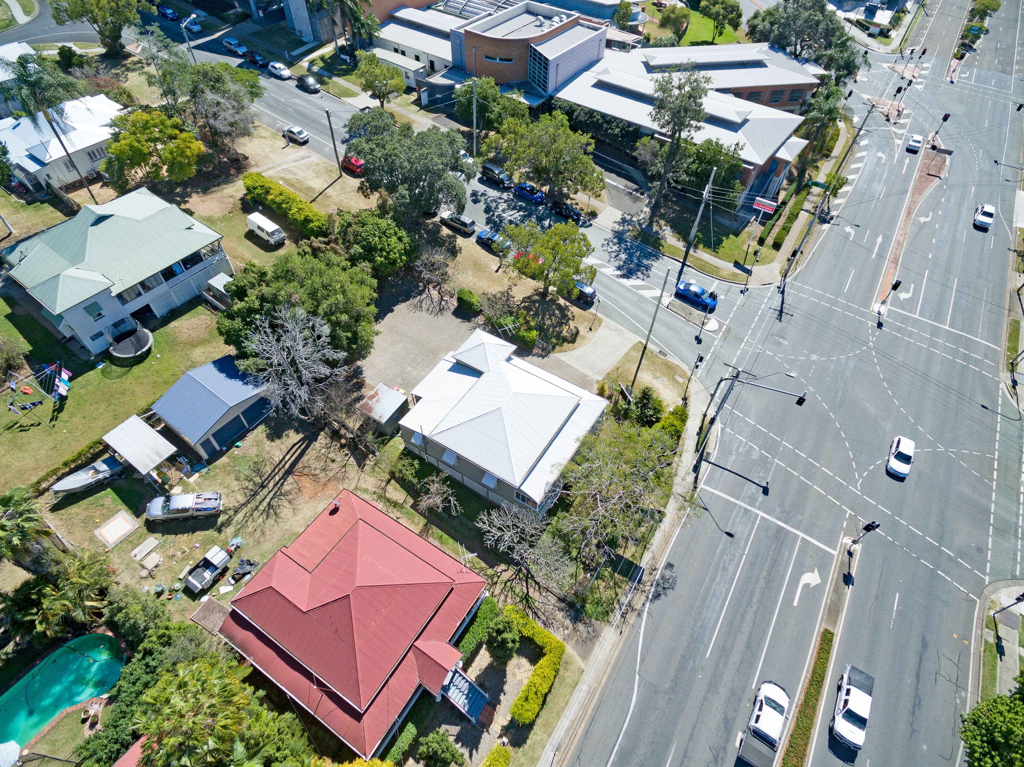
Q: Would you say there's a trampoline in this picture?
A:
Yes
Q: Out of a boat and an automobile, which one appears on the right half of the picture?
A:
automobile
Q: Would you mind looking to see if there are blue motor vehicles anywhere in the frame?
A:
Yes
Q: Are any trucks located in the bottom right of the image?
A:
Yes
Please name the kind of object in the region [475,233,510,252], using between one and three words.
car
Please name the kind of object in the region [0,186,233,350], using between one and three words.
building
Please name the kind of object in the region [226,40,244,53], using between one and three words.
vehicle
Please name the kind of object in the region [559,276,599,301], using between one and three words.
car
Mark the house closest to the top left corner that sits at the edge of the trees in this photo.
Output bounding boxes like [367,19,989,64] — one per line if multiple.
[0,34,37,82]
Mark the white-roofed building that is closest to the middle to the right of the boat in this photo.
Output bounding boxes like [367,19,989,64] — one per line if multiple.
[398,292,610,515]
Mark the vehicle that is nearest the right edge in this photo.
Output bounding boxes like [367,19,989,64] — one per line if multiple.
[973,205,995,227]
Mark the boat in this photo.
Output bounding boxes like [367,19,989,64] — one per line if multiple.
[44,455,121,496]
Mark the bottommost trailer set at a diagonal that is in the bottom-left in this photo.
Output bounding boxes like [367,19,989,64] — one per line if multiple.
[180,540,238,597]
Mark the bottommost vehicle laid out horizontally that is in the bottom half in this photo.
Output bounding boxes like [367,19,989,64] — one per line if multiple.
[146,491,223,524]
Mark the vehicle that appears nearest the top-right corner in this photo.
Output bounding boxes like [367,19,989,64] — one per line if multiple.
[907,137,923,150]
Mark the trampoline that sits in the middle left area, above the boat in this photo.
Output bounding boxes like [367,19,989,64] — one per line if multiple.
[100,322,158,368]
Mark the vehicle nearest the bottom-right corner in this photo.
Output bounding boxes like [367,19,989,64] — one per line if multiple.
[829,661,878,754]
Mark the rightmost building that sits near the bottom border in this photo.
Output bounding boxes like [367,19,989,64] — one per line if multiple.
[217,488,496,760]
